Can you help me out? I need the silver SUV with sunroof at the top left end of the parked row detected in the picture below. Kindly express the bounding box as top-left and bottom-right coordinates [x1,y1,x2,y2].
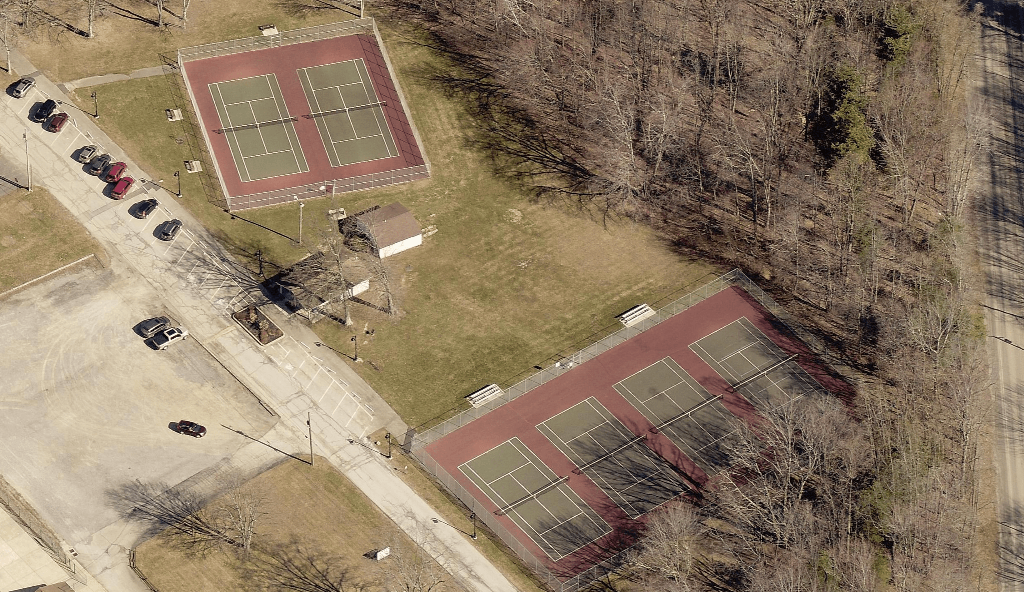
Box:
[10,79,34,100]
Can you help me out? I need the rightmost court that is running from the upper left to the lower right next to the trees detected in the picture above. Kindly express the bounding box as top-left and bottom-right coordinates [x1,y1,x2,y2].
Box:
[690,317,842,435]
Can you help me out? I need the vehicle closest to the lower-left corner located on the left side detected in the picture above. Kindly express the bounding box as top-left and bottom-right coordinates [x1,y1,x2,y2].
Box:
[173,419,206,441]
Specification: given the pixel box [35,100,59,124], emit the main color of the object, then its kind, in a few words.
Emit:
black car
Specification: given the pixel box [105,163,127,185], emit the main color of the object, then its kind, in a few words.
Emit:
red car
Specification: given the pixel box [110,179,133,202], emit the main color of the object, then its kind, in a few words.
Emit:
red car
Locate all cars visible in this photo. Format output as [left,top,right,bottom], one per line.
[110,179,133,202]
[105,163,127,185]
[10,79,34,100]
[173,419,206,441]
[159,222,182,244]
[133,200,160,221]
[137,320,171,340]
[88,158,109,179]
[35,100,59,124]
[46,114,67,135]
[76,147,97,167]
